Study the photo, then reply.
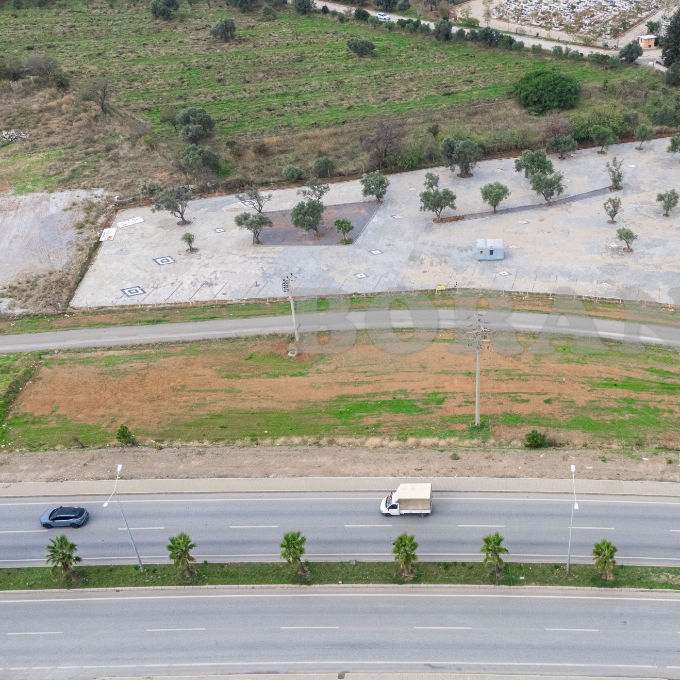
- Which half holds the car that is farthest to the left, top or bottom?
bottom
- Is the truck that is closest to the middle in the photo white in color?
Yes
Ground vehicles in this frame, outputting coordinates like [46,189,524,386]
[376,14,389,20]
[40,503,93,528]
[383,480,432,516]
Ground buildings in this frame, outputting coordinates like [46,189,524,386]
[476,239,504,260]
[638,33,657,49]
